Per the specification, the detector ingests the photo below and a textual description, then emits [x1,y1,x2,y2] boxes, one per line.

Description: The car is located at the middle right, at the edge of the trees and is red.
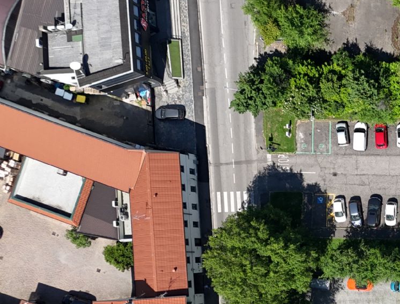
[374,124,389,149]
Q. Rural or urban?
urban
